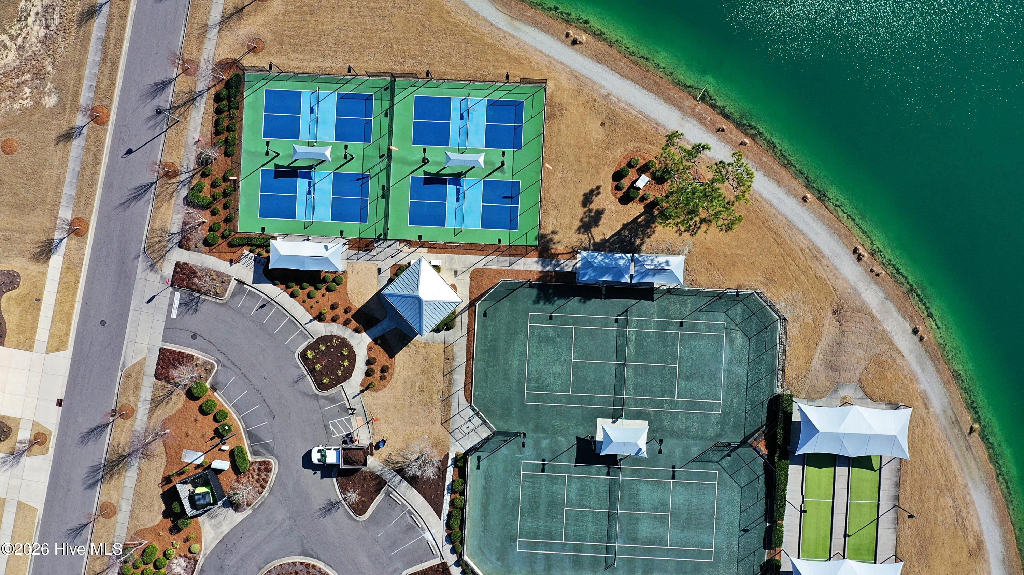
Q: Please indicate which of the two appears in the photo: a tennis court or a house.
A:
tennis court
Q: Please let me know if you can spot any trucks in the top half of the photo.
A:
No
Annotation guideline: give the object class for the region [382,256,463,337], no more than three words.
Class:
gazebo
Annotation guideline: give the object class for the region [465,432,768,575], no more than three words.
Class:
tennis court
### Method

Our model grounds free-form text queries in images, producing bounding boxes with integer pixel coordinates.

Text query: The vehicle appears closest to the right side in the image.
[313,443,371,468]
